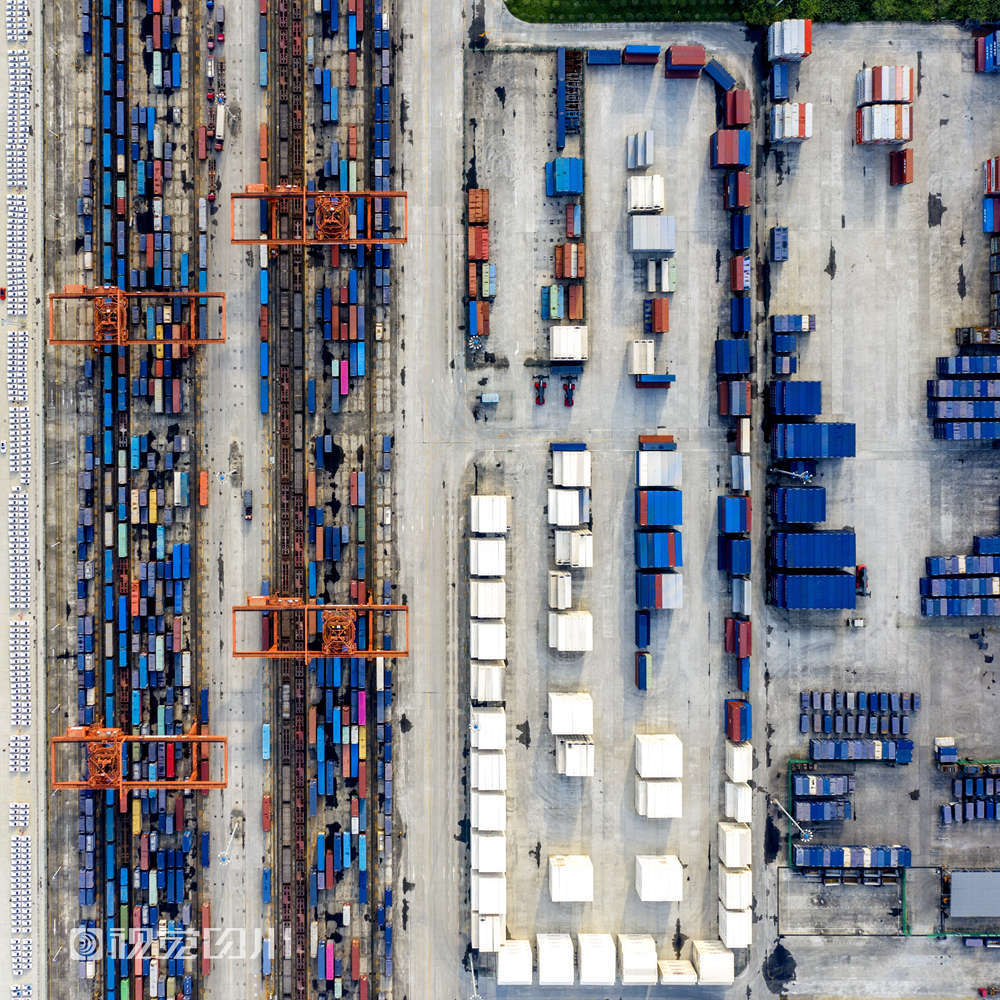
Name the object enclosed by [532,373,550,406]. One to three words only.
work vehicle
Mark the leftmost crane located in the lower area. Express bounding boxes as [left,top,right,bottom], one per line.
[51,716,229,796]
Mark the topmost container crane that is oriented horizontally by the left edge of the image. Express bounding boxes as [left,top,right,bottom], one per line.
[49,284,227,356]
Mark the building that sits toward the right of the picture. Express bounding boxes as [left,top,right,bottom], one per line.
[944,865,1000,917]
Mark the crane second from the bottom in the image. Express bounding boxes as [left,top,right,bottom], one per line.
[232,589,409,665]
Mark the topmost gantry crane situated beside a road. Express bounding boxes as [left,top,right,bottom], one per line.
[231,184,407,259]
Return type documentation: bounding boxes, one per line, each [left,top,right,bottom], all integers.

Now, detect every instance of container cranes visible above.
[51,716,229,796]
[231,184,407,259]
[232,589,409,665]
[49,284,227,356]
